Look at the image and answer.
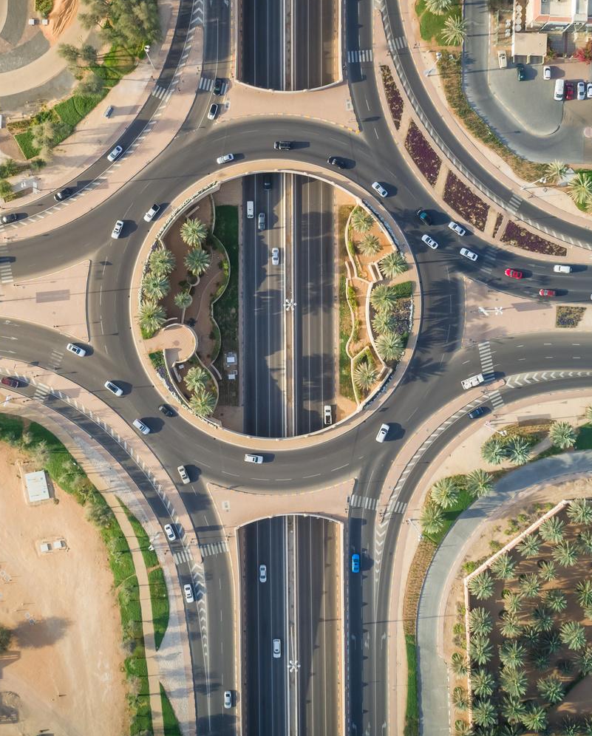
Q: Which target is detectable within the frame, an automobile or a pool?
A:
automobile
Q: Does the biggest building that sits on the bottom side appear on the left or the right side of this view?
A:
left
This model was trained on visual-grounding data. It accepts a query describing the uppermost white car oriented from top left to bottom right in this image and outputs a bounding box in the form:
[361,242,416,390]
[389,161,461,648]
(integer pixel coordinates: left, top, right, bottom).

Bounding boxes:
[371,182,387,198]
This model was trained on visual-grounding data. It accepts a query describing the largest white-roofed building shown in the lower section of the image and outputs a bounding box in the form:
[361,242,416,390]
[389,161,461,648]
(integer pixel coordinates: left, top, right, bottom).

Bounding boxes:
[25,468,52,503]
